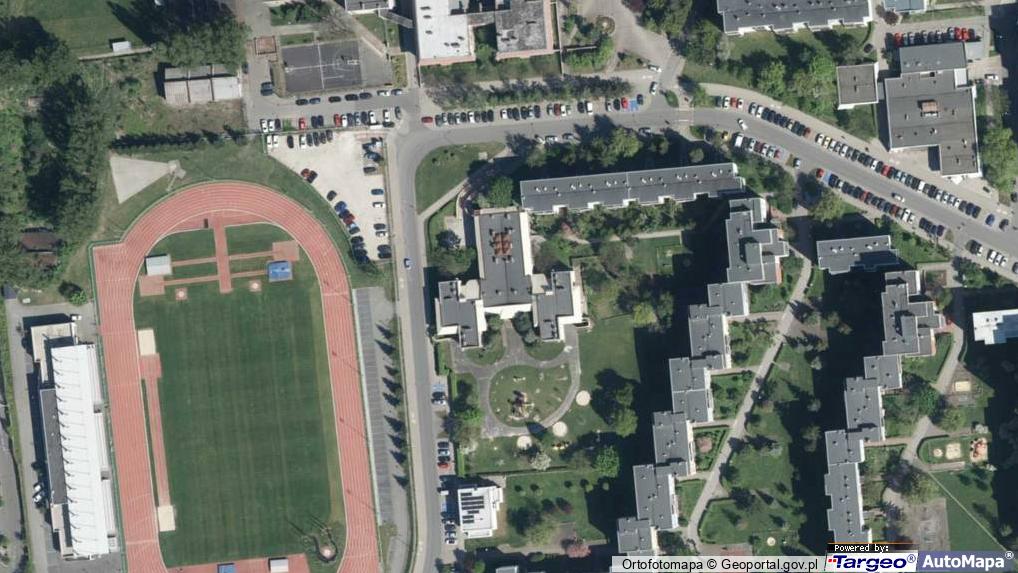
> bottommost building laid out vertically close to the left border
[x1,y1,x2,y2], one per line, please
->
[30,322,81,558]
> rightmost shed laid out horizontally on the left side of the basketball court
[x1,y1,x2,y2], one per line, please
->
[164,65,247,105]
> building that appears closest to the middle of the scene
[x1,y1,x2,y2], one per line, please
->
[437,204,580,348]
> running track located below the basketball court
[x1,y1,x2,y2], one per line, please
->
[93,181,371,573]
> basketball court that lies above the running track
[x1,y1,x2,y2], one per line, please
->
[281,41,362,90]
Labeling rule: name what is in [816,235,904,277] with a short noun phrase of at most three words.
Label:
building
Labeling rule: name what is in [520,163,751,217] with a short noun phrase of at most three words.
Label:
building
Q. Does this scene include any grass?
Yes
